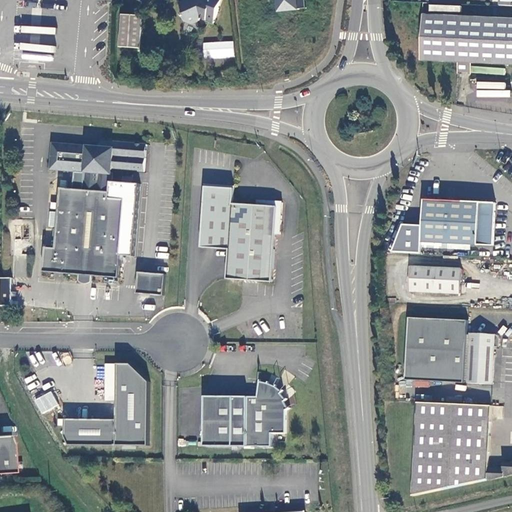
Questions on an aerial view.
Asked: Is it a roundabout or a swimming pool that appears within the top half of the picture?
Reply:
roundabout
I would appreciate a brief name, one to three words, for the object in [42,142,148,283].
building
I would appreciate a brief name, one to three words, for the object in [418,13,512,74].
building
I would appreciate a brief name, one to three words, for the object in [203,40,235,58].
shed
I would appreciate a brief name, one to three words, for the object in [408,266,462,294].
shed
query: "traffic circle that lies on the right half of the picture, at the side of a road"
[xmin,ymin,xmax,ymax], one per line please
[304,64,418,178]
